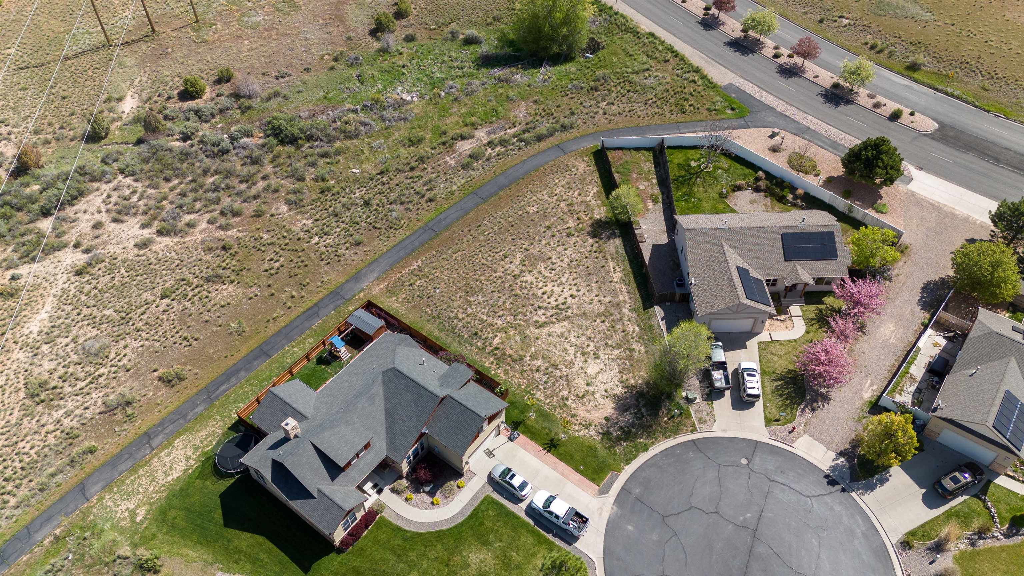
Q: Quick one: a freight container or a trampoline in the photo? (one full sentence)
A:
The one in the frame is a trampoline.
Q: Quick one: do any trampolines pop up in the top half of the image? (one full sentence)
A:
No, I see no trampoline in the top half of the image.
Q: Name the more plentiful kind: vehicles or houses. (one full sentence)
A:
The image shows more vehicles than it does houses.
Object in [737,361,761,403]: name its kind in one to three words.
car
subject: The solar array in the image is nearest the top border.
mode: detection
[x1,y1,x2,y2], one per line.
[781,231,838,260]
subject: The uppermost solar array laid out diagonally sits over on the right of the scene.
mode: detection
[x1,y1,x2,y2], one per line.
[737,265,771,305]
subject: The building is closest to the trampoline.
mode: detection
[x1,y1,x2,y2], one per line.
[239,329,510,545]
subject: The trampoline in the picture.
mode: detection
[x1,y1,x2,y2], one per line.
[210,423,261,476]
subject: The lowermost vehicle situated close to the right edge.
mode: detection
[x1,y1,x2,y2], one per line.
[932,467,988,501]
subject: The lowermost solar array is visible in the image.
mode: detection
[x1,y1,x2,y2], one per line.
[996,380,1024,447]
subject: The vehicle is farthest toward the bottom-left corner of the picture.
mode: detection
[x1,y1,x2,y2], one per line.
[488,464,535,502]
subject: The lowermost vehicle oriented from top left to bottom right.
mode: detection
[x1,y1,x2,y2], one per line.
[530,490,593,541]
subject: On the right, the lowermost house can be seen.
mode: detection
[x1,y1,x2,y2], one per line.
[922,307,1024,476]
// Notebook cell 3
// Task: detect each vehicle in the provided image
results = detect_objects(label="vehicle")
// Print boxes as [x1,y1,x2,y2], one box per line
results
[488,464,535,502]
[530,490,593,541]
[710,351,733,394]
[737,361,761,403]
[932,467,988,501]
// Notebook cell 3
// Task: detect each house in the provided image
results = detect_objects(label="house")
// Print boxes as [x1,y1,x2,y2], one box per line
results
[239,329,510,545]
[673,211,855,333]
[922,307,1024,476]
